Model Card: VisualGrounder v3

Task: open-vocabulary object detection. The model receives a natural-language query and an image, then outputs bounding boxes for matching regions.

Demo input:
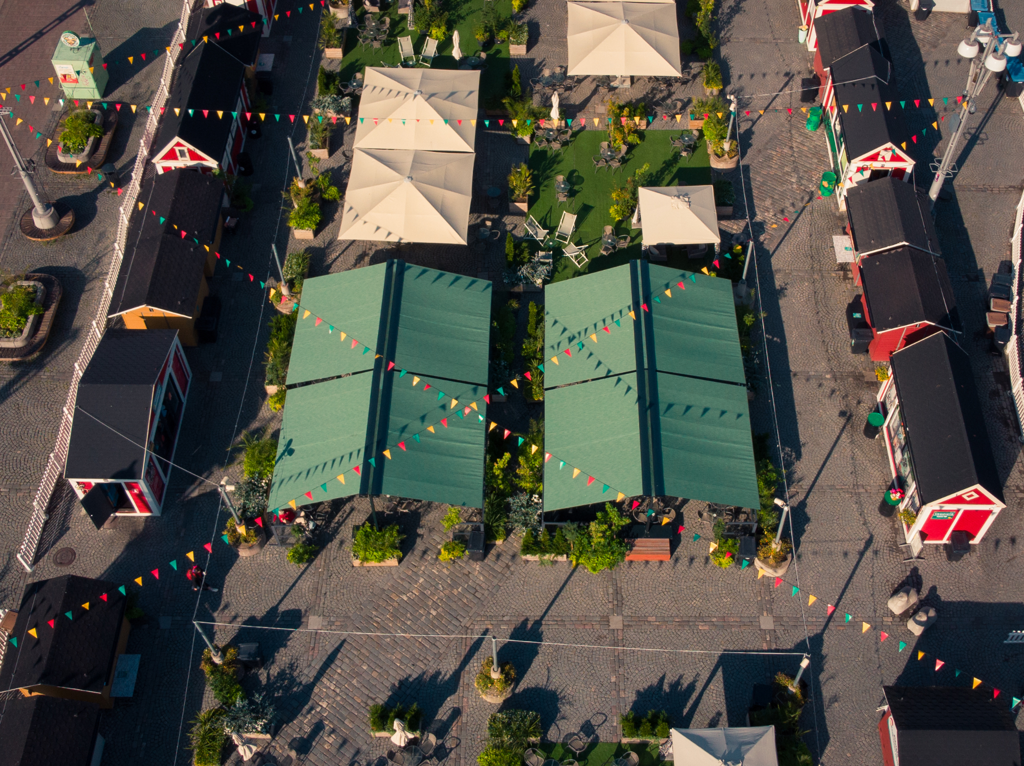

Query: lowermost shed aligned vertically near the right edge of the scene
[876,331,1009,544]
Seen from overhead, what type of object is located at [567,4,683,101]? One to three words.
umbrella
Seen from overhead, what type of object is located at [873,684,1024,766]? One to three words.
shed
